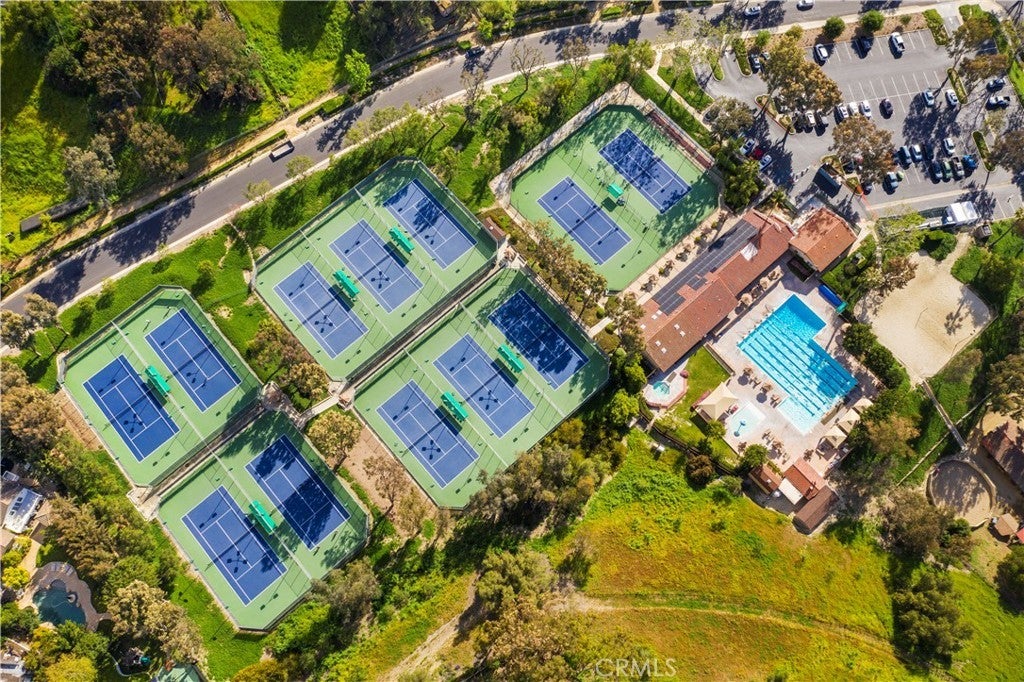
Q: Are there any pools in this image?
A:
Yes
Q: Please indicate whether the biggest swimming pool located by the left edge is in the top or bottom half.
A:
bottom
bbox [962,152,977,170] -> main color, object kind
blue car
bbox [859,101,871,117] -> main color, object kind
white vehicle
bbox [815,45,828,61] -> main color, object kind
white vehicle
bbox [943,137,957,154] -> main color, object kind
white car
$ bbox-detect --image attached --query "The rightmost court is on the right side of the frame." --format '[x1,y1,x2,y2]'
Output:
[855,229,995,389]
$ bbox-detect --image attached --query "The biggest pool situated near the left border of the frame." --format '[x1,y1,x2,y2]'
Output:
[31,577,88,630]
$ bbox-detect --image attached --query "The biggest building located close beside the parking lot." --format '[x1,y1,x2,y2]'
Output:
[622,206,795,370]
